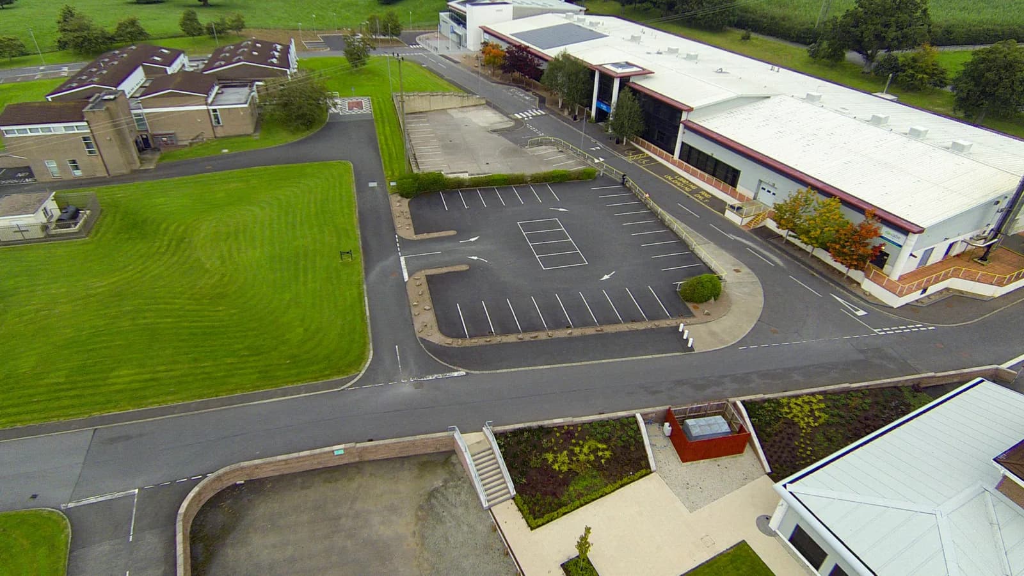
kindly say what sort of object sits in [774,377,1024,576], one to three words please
building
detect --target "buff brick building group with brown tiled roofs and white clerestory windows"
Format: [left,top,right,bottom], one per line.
[0,39,291,179]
